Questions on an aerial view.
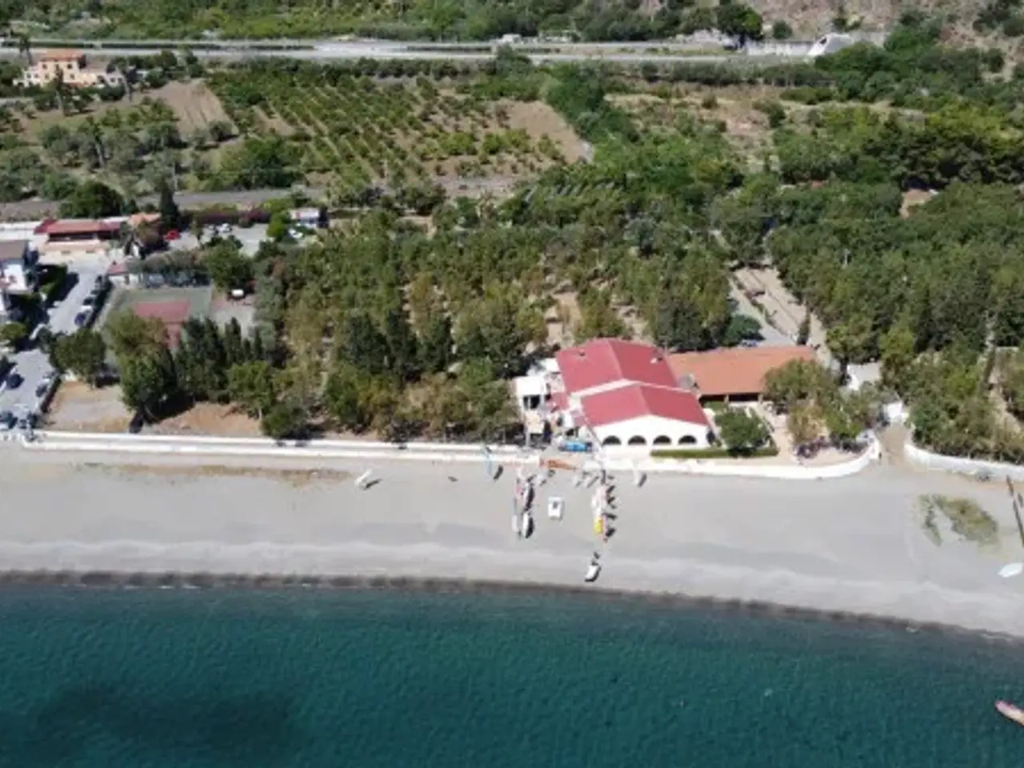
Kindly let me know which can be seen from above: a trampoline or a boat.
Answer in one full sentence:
This aerial view contains a boat.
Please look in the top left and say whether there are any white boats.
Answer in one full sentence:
No, I see no white boat in the top left.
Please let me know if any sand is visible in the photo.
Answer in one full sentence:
Yes, sand shows up in the scene.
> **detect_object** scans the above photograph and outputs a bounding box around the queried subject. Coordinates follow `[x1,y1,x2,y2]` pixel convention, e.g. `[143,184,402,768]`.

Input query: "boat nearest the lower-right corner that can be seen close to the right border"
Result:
[994,701,1024,726]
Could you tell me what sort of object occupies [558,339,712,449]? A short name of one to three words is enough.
building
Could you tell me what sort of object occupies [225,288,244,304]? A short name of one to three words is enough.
camper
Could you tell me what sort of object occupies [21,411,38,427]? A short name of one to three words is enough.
car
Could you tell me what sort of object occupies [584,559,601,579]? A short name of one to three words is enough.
boat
